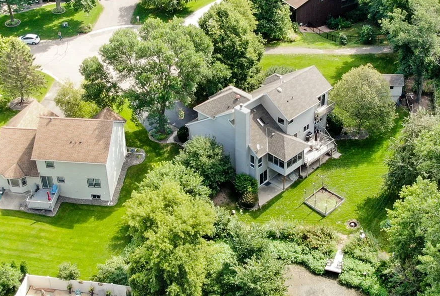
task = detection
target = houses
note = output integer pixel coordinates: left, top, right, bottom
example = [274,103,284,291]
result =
[0,99,142,214]
[280,0,350,22]
[187,61,351,192]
